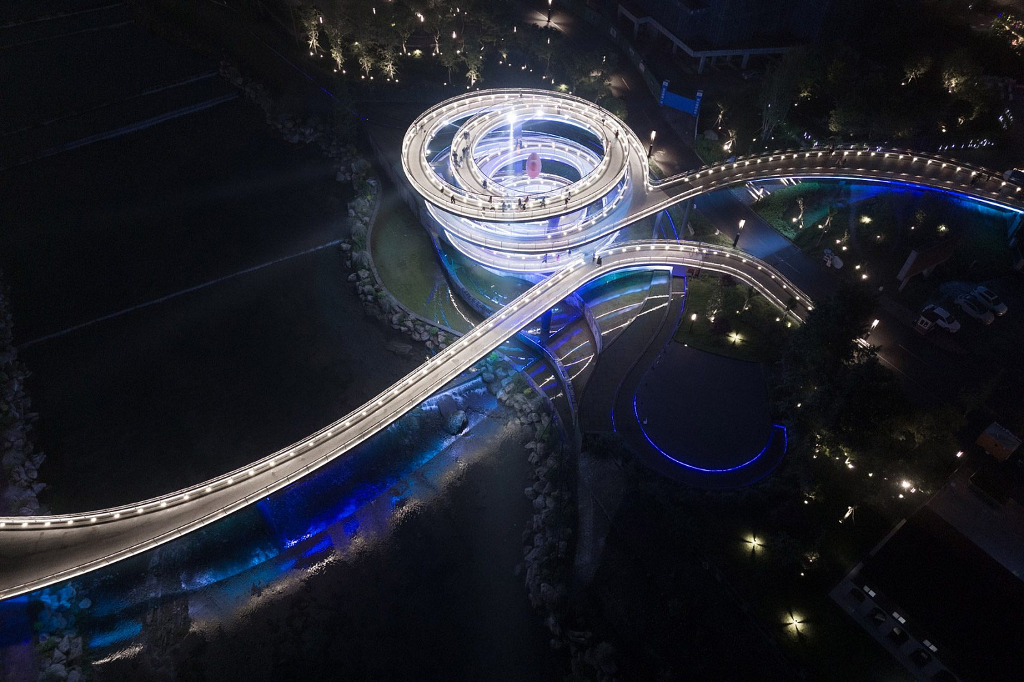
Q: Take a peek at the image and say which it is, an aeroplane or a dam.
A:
dam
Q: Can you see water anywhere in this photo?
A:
Yes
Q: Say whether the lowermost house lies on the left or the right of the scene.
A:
right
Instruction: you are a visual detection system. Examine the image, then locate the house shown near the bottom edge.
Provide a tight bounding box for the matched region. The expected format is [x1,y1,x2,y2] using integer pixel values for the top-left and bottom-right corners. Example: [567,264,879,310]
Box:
[827,490,1024,682]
